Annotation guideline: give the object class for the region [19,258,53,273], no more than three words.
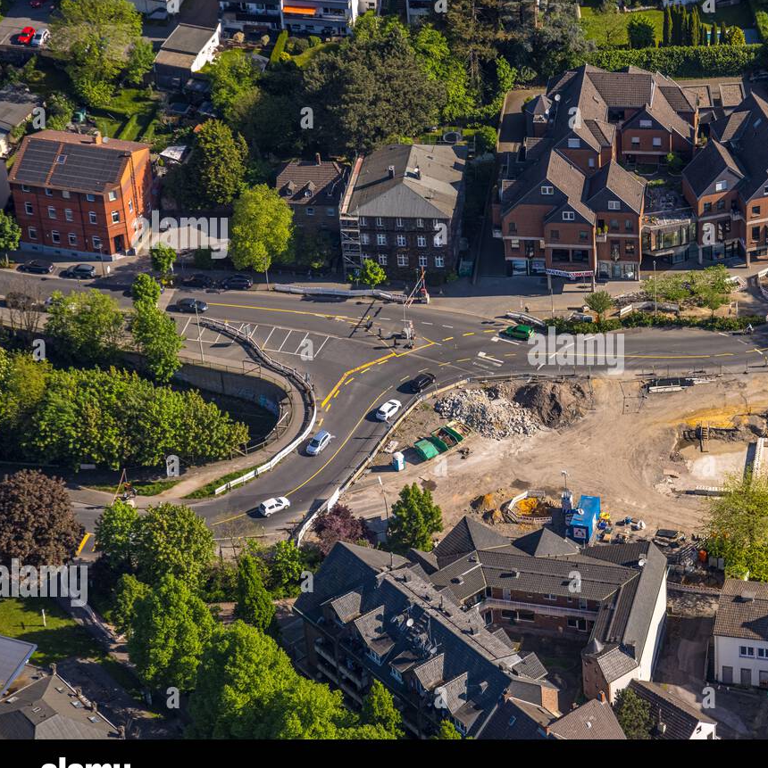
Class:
car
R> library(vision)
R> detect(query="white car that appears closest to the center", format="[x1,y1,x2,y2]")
[373,398,403,419]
